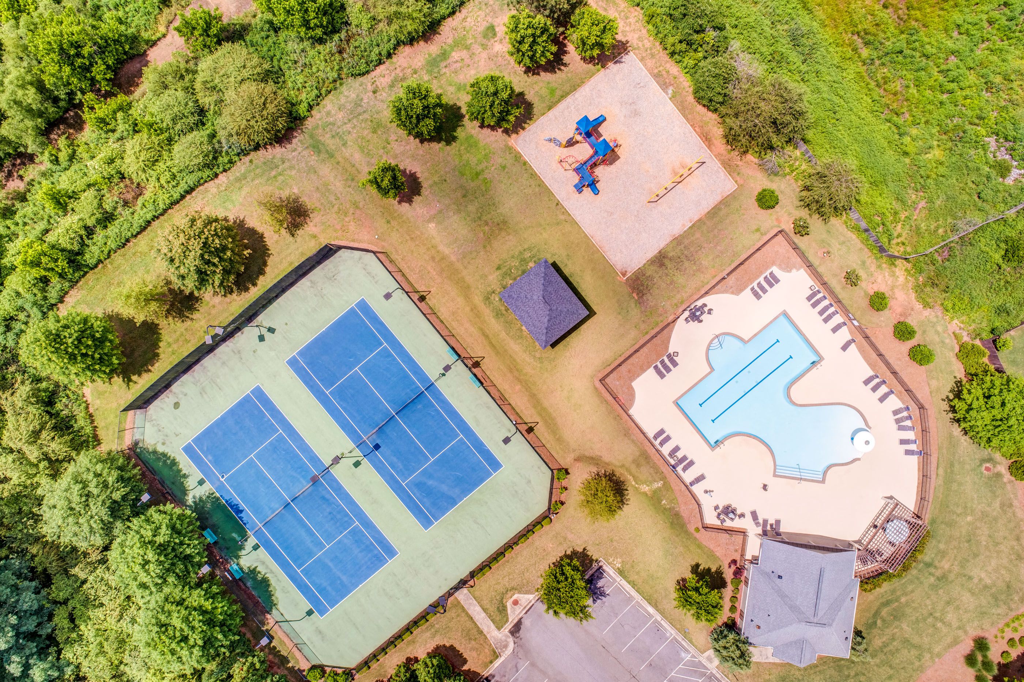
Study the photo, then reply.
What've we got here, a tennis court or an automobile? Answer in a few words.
tennis court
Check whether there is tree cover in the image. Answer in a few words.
Yes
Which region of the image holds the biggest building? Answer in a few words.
bottom right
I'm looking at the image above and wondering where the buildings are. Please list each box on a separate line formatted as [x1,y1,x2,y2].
[738,532,861,665]
[499,258,589,350]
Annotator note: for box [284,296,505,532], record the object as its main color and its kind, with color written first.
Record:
blue tennis court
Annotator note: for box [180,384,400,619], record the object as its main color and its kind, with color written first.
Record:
blue tennis court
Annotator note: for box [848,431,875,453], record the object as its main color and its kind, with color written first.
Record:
white fountain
